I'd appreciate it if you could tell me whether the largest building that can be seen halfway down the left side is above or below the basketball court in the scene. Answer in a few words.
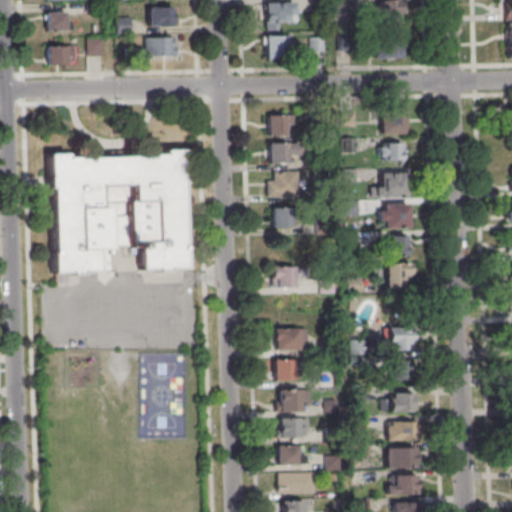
above it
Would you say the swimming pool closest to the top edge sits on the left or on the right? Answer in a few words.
right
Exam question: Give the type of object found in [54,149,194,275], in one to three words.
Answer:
building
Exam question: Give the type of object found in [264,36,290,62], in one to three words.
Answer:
house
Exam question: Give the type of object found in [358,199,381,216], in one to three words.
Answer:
building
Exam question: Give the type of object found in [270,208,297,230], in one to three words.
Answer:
house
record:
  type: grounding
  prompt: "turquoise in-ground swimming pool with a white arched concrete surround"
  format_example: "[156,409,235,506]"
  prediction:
[356,299,378,327]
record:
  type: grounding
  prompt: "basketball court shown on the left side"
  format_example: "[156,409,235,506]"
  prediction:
[139,353,186,438]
